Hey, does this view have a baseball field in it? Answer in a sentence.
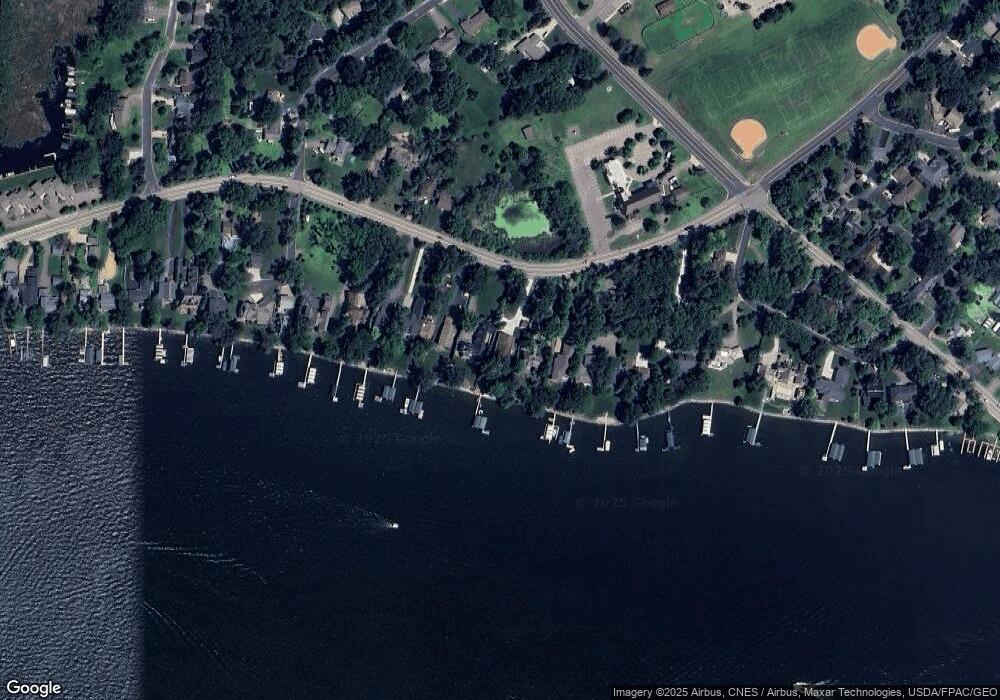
Yes, a baseball field is visible in the scene.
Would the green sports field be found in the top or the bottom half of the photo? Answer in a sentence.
The green sports field sits in the top half of the picture.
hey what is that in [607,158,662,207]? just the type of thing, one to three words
building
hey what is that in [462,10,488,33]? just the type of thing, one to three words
house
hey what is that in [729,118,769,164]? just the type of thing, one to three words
baseball field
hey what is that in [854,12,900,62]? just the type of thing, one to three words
baseball field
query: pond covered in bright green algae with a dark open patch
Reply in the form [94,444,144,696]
[494,198,549,238]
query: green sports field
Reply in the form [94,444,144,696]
[652,0,914,183]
